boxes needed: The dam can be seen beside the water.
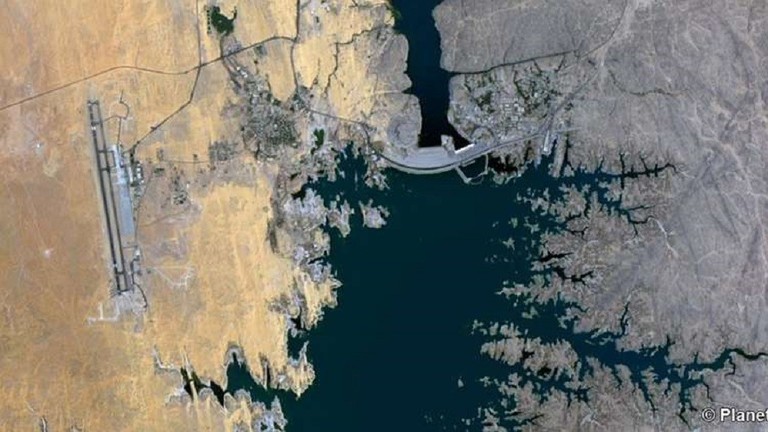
[365,143,490,175]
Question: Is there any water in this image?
Yes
